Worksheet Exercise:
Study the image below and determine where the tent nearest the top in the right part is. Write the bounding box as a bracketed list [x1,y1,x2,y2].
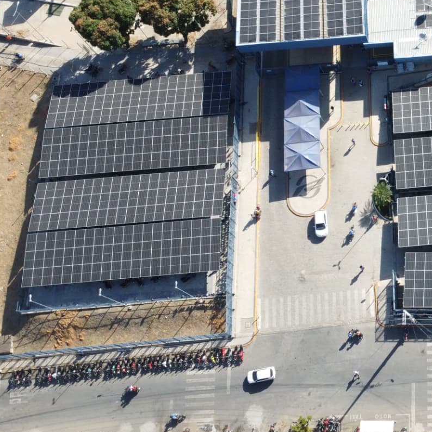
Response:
[284,63,324,95]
